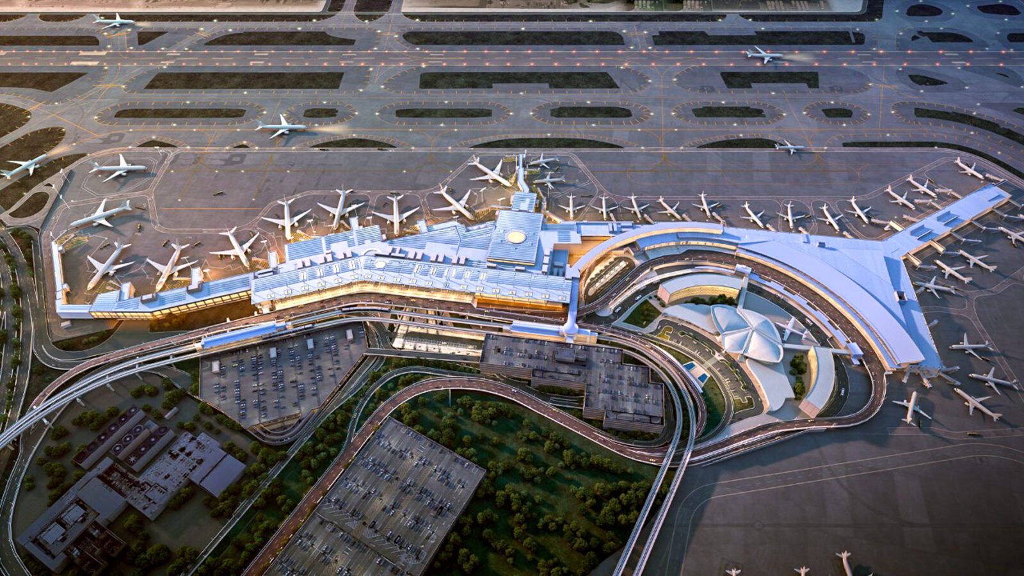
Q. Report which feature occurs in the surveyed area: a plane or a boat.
plane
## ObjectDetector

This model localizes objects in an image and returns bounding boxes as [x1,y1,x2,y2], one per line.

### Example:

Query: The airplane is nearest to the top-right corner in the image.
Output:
[953,154,983,180]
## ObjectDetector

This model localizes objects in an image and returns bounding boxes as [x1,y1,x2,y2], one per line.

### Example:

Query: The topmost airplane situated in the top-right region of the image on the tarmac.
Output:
[746,44,782,61]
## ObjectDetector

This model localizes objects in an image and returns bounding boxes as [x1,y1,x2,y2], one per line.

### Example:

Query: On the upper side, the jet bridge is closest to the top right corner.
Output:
[983,171,1005,187]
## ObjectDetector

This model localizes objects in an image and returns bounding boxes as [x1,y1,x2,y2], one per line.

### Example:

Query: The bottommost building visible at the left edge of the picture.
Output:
[17,432,249,576]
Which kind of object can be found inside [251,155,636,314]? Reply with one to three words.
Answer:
building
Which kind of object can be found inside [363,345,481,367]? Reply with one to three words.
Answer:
bridge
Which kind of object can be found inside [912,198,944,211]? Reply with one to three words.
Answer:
jet bridge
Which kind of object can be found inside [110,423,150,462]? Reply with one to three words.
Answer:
cooling tower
